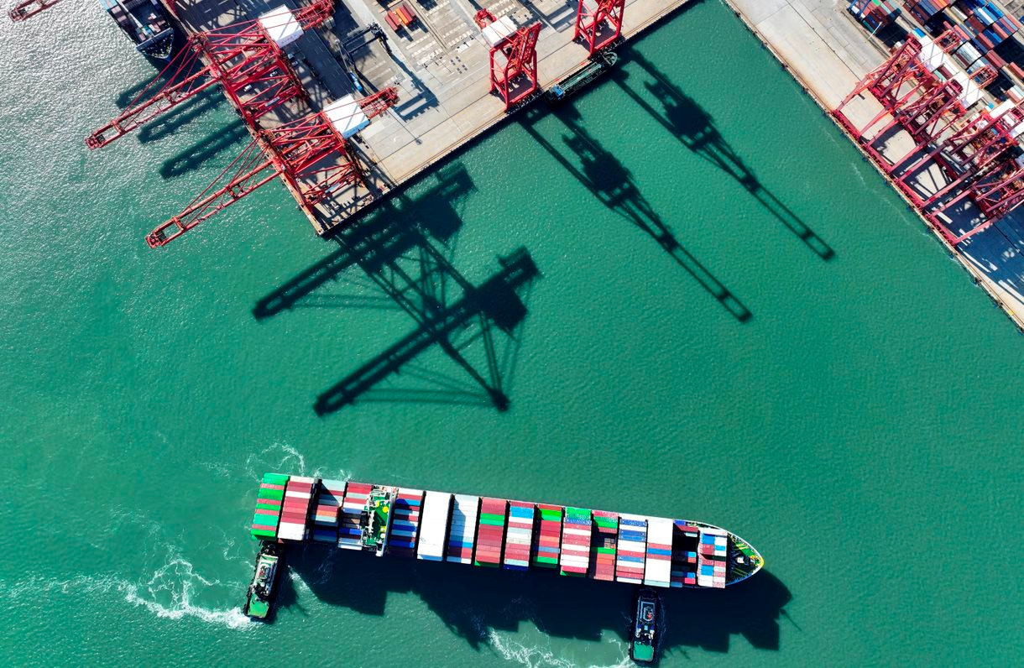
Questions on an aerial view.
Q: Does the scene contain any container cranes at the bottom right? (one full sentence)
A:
No, I can find no container crane at the bottom right.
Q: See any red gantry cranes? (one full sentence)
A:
Yes, the picture does show a red gantry crane.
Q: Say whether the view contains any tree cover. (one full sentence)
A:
No, no tree cover is visible.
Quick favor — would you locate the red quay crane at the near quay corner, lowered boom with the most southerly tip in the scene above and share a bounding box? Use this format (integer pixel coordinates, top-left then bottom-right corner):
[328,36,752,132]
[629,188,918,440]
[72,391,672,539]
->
[139,80,405,254]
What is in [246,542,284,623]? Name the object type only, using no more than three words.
boat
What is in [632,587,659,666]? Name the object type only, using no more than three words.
boat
